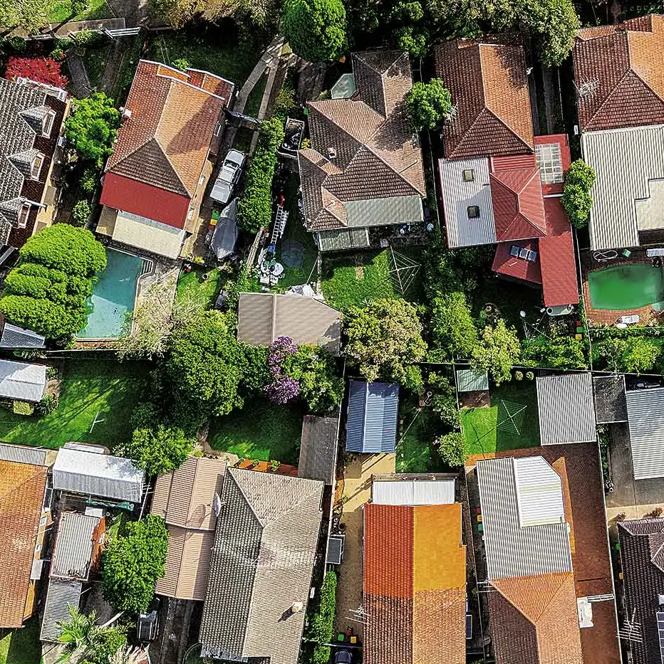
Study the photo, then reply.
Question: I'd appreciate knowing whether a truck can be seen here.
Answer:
Yes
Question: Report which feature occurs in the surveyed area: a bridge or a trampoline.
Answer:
trampoline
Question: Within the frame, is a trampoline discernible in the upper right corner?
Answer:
No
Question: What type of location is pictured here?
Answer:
residential area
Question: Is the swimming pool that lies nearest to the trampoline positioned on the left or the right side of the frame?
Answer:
left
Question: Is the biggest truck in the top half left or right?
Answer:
left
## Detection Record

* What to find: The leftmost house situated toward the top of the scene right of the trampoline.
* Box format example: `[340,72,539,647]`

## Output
[297,52,425,254]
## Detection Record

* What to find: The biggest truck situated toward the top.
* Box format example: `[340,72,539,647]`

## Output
[206,149,245,204]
